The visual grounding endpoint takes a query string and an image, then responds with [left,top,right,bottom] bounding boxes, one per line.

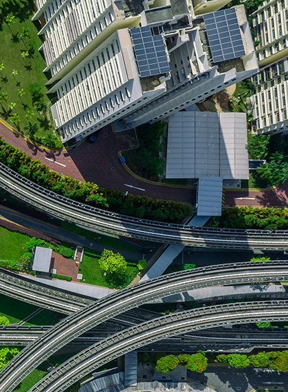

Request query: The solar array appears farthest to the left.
[130,26,170,77]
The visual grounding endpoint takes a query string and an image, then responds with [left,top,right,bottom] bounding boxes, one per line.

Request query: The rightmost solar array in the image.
[201,9,245,63]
